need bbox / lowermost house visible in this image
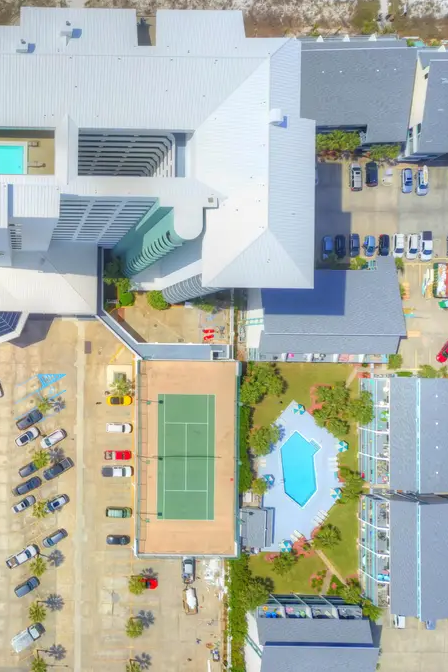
[242,583,379,672]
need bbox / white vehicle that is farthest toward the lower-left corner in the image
[11,624,44,655]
